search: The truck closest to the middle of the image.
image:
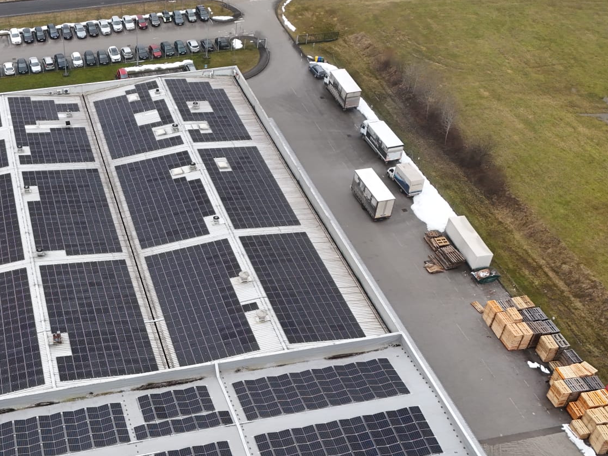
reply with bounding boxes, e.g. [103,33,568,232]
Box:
[352,168,396,218]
